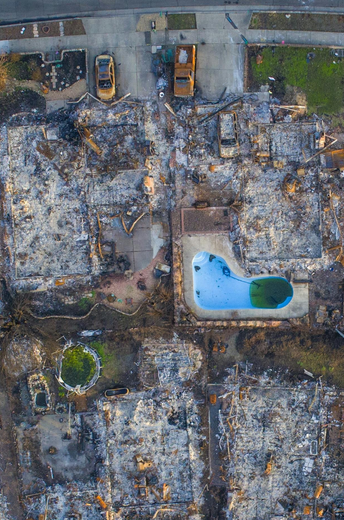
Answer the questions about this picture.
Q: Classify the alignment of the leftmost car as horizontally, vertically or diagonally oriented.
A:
vertically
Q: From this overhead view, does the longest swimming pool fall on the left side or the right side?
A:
right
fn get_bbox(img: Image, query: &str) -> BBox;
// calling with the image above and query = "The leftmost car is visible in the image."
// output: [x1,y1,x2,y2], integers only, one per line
[94,53,116,100]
